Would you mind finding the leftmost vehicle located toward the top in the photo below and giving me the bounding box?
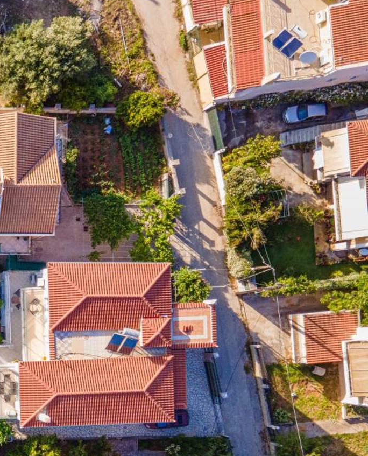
[280,102,327,126]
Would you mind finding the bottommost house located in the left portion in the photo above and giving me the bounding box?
[0,261,219,429]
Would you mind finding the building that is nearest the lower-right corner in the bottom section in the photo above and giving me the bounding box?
[285,309,368,406]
